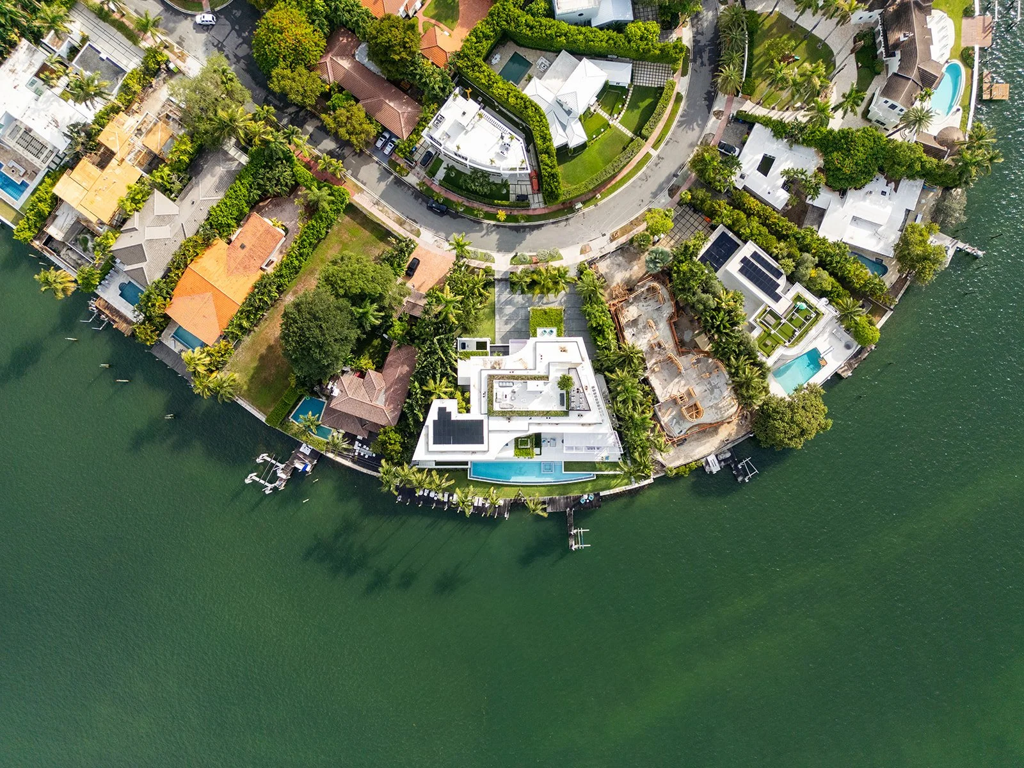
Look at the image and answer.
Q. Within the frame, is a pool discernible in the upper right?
Yes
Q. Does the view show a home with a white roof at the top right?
Yes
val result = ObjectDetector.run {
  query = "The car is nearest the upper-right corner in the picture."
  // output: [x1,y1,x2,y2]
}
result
[718,140,740,156]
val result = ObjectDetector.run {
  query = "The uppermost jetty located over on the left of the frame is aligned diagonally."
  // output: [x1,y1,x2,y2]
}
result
[95,297,133,336]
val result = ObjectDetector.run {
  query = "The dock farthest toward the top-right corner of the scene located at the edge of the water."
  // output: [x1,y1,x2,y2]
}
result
[961,15,993,51]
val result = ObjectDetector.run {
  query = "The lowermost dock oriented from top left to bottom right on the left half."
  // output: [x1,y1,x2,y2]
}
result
[147,341,195,386]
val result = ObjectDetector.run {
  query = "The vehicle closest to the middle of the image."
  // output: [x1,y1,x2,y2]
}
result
[405,256,423,278]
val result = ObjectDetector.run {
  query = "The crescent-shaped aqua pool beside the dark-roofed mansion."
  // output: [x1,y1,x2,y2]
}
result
[930,61,964,118]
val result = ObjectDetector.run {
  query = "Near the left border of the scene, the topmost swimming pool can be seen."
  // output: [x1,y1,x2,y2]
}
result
[0,161,33,203]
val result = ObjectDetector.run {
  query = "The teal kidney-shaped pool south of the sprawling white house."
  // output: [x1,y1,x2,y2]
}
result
[843,248,890,280]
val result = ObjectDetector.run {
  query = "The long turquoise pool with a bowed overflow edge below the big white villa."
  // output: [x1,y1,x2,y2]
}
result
[468,461,595,485]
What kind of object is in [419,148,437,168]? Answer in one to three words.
car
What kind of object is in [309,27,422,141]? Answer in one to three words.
house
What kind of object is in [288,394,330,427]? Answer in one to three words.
swimming pool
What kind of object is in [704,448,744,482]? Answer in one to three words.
pier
